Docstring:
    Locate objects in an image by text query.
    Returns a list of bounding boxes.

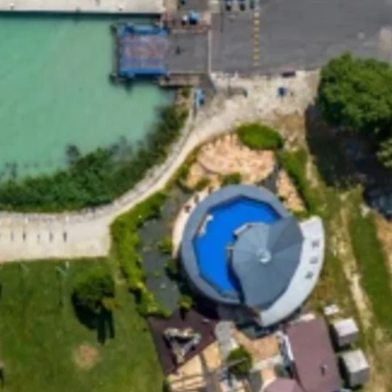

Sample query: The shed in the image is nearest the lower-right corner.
[338,349,369,387]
